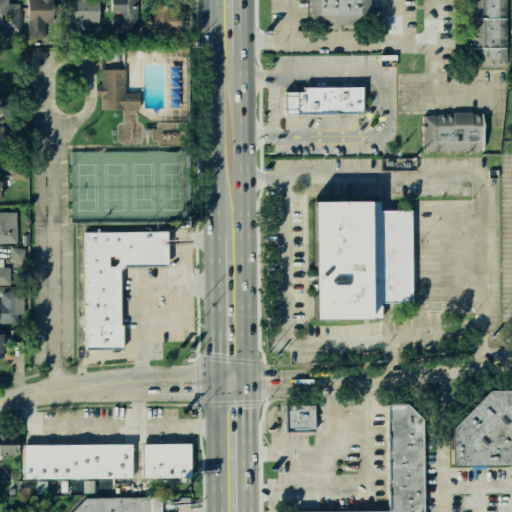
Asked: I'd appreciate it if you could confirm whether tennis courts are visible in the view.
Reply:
Yes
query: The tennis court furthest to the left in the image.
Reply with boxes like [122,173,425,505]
[74,156,101,219]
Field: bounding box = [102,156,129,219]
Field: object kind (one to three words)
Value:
tennis court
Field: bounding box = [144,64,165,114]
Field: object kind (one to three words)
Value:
swimming pool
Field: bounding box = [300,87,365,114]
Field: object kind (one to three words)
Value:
building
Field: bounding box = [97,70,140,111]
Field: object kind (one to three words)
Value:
house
